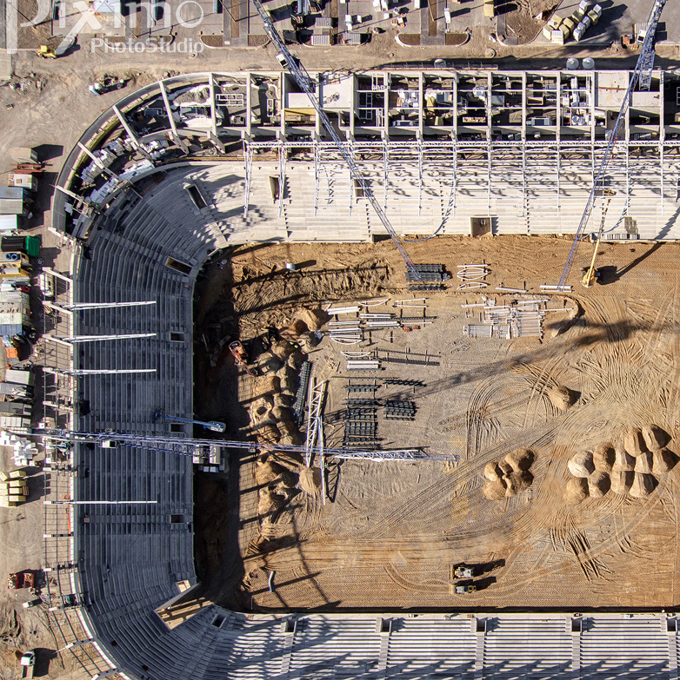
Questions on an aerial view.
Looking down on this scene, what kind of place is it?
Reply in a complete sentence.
What you see here is a sports ground.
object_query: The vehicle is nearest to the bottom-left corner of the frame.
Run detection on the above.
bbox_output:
[15,653,33,680]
